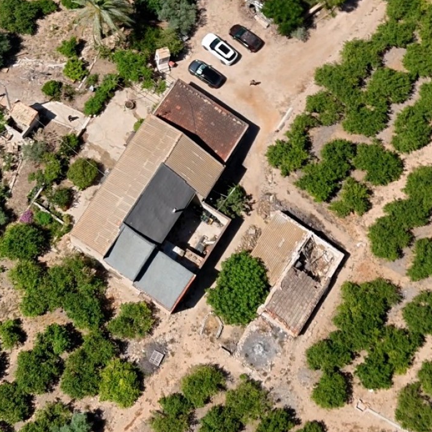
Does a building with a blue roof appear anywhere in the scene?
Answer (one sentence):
No, I find no building with a blue roof anywhere in the image.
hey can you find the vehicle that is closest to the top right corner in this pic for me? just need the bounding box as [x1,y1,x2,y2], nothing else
[225,24,267,56]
